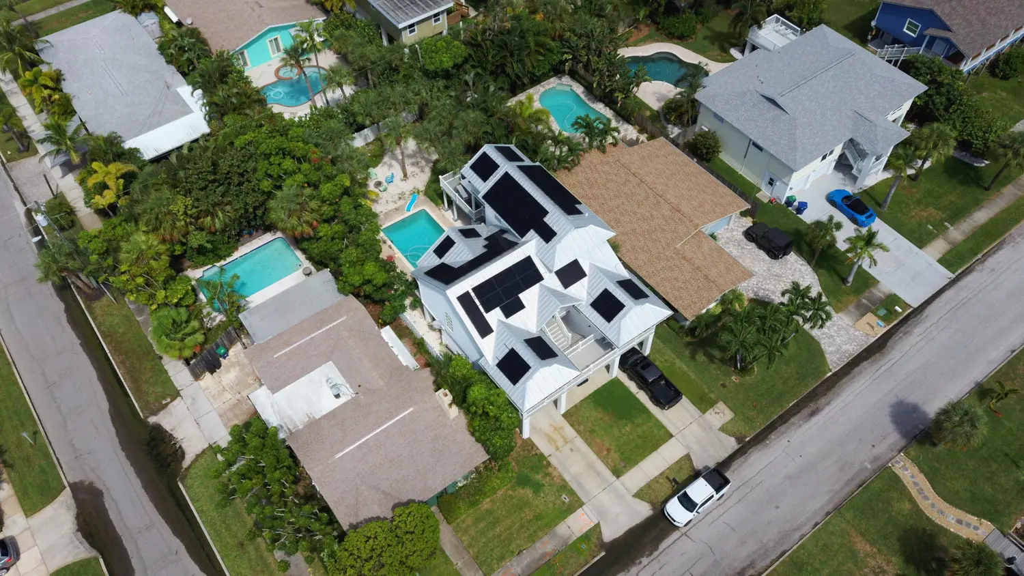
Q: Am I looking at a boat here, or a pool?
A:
pool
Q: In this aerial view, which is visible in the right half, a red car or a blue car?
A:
blue car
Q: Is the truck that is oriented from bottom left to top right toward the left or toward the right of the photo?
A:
right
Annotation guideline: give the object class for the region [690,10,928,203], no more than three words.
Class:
house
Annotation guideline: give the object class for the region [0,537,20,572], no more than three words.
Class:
car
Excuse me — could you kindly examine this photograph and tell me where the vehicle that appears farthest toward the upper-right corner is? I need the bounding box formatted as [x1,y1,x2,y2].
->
[828,192,877,228]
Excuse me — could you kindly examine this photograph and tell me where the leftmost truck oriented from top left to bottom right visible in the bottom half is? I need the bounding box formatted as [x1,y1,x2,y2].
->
[619,349,683,412]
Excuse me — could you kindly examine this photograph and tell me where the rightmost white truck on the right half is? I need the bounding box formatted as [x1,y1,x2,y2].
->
[665,462,733,527]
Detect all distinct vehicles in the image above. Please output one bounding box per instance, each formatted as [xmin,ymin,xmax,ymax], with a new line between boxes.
[619,349,683,412]
[743,224,792,258]
[0,537,20,572]
[665,462,733,527]
[828,192,877,228]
